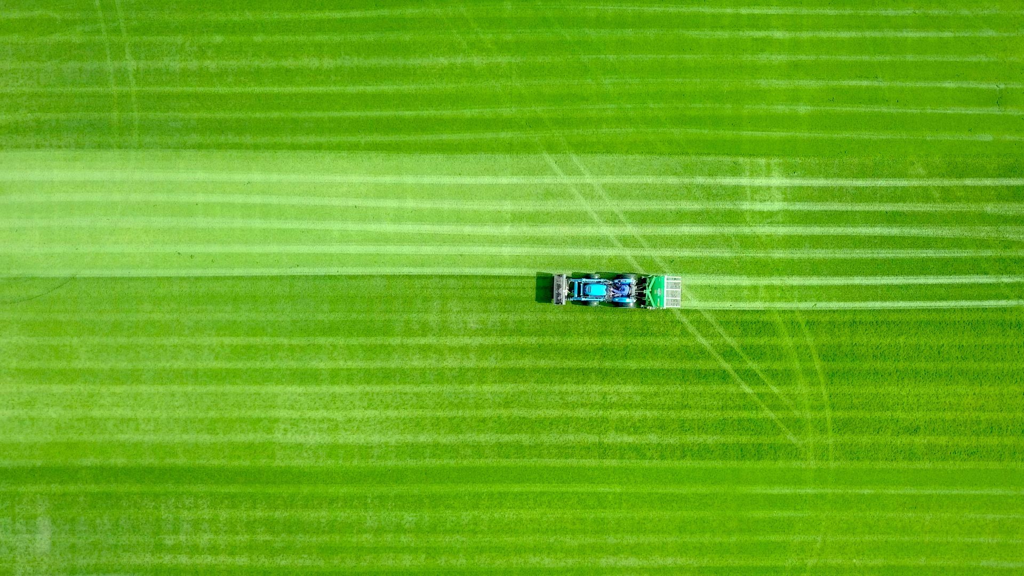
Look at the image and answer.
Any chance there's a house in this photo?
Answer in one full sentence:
No, there is no house in the image.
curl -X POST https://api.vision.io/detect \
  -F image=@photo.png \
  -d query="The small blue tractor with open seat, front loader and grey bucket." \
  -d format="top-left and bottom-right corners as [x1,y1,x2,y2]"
[554,273,647,308]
